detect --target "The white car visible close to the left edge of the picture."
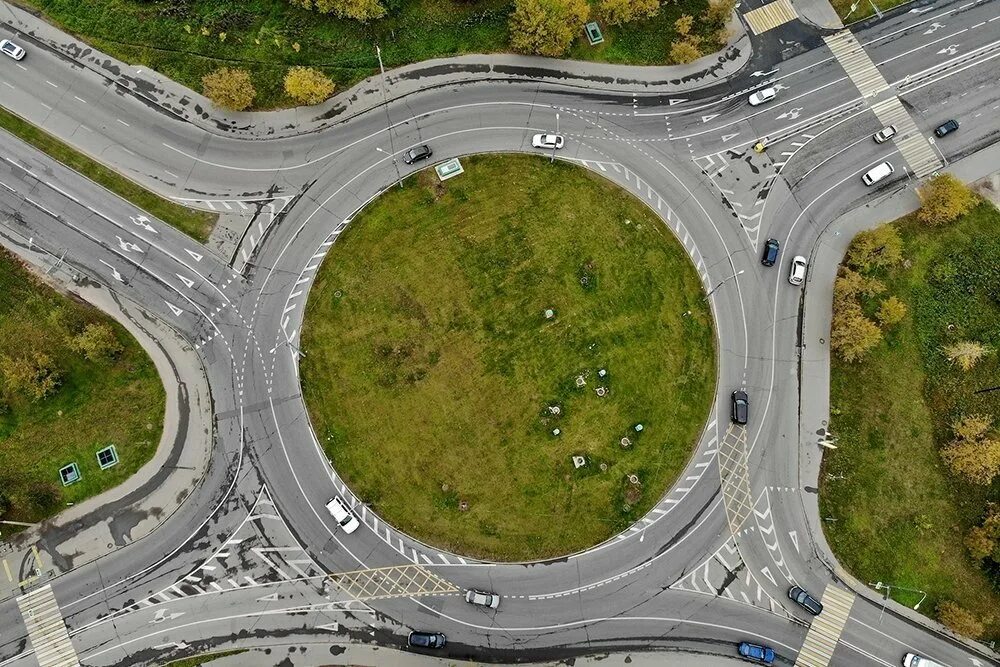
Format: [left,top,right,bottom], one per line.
[0,36,29,62]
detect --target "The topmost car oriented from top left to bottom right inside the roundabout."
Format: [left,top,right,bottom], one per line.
[326,496,356,534]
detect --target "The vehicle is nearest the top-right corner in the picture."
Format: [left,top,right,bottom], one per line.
[931,117,961,139]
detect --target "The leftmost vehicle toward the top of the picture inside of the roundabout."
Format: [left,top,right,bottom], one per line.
[403,146,433,166]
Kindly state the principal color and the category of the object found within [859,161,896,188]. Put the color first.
white vehicle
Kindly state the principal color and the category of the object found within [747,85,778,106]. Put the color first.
white car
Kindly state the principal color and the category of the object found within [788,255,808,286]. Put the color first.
white car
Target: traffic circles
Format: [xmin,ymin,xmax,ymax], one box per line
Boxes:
[162,82,799,657]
